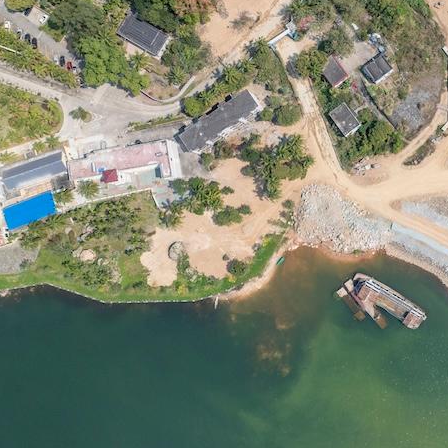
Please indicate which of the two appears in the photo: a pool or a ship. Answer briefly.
ship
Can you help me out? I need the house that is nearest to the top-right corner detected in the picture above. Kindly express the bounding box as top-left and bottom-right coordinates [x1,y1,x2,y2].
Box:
[360,55,393,84]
